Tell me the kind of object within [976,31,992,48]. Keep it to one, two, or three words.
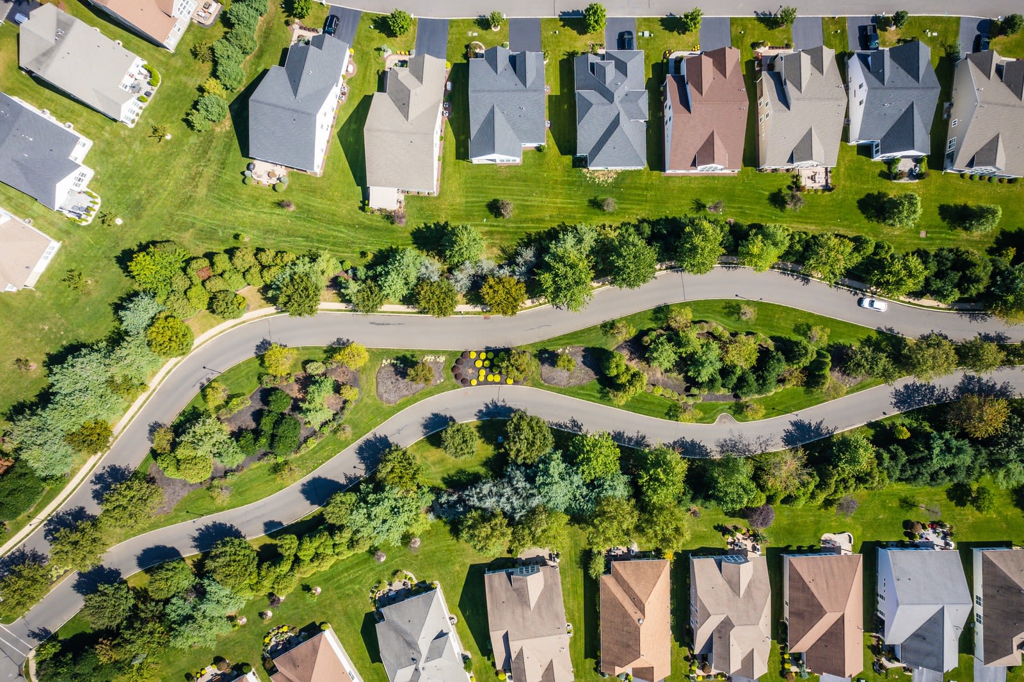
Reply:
car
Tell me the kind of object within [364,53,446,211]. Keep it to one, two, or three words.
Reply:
house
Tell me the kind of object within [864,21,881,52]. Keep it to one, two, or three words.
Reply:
vehicle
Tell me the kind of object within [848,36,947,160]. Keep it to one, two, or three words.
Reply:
house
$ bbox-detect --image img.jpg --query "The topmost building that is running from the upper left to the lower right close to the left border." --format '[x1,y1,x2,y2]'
[13,3,143,124]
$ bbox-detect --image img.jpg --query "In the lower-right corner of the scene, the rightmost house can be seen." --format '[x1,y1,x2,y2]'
[971,548,1024,667]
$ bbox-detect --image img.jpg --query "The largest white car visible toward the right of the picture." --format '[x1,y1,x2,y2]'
[857,297,887,312]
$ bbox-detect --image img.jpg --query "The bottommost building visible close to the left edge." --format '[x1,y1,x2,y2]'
[0,208,62,293]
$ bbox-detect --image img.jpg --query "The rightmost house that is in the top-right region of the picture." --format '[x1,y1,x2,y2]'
[943,45,1024,179]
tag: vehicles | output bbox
[857,297,887,312]
[322,10,339,38]
[864,21,881,52]
[620,28,633,51]
[976,31,992,48]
